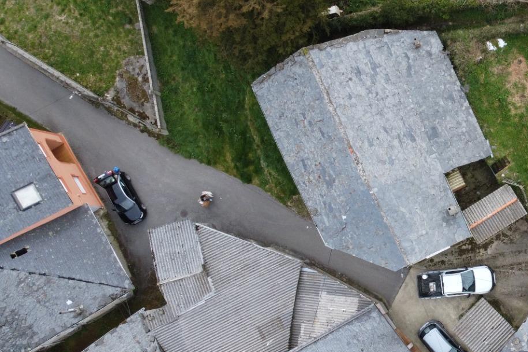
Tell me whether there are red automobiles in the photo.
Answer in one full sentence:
No, I find no red automobile anywhere in the image.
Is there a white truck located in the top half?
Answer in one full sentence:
No, I see no white truck in the top half.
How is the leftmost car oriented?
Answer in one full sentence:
The leftmost car runs diagonally in the image.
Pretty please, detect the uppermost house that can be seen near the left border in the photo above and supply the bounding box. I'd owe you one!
[0,120,107,258]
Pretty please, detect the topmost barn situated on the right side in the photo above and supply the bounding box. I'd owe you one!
[249,25,493,271]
